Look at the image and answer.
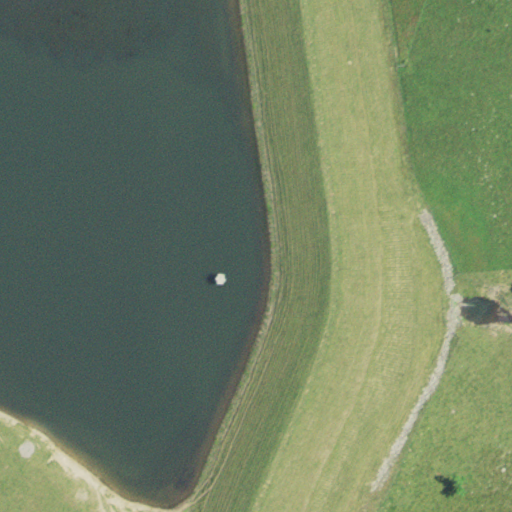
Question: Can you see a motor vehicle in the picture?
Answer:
No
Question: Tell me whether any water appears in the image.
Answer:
Yes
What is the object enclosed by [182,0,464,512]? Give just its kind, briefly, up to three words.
dam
